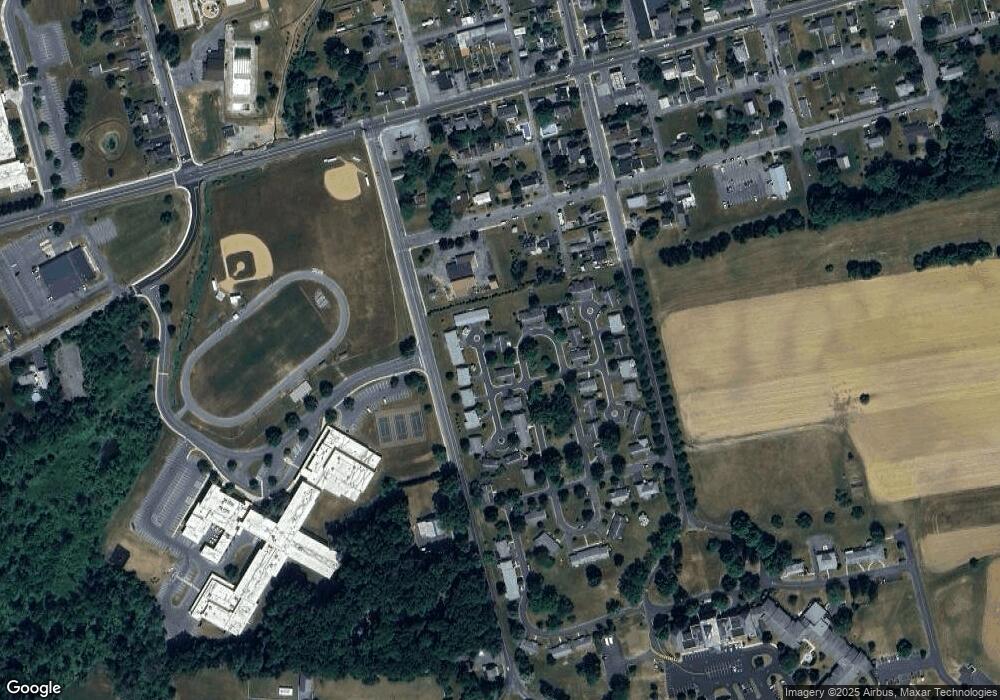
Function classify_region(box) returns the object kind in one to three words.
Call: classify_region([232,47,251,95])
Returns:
swimming pool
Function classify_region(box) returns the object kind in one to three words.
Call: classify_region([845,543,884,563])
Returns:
house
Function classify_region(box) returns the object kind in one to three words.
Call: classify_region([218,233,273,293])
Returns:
baseball field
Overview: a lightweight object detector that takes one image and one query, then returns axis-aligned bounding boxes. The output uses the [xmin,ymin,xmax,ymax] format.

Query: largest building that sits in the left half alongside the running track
[183,425,382,636]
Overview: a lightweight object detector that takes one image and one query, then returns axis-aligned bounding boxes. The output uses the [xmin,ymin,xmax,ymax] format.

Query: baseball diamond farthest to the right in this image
[324,159,360,200]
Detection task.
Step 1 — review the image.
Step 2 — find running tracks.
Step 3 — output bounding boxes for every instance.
[182,269,349,427]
